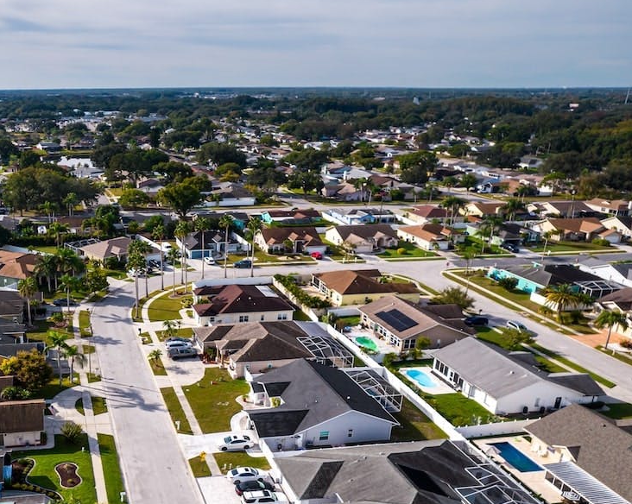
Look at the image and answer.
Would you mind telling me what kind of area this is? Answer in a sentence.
This looks like a residential area.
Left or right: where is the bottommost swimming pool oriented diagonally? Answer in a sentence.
It is on the right.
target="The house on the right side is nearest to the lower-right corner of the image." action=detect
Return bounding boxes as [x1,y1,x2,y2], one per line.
[523,410,632,504]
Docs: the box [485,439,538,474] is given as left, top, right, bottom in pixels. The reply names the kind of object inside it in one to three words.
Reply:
swimming pool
